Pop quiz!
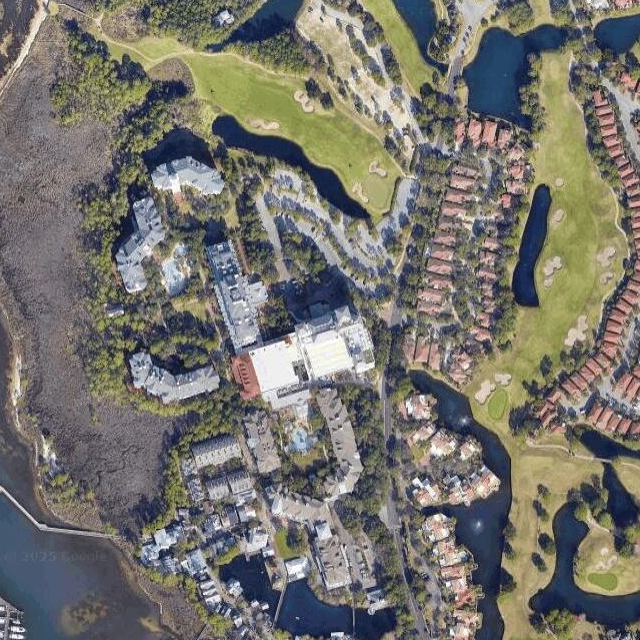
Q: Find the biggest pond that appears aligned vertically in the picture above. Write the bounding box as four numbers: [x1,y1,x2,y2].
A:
[512,184,551,308]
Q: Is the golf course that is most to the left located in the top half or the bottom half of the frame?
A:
top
